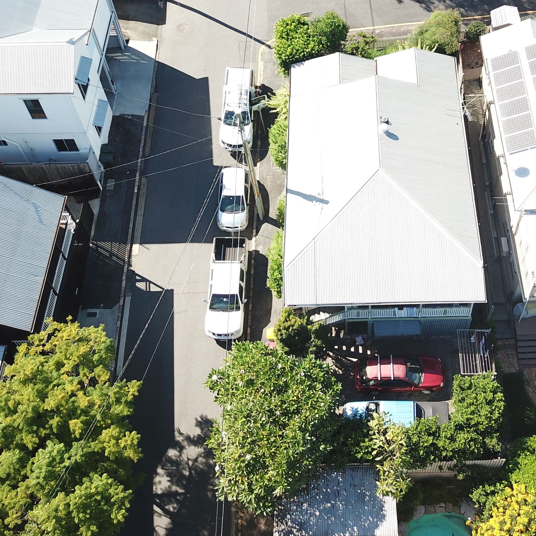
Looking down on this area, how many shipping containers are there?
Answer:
zero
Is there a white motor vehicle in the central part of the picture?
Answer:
Yes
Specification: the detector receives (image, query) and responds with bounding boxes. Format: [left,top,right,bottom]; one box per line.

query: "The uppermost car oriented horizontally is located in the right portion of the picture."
[354,351,444,395]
